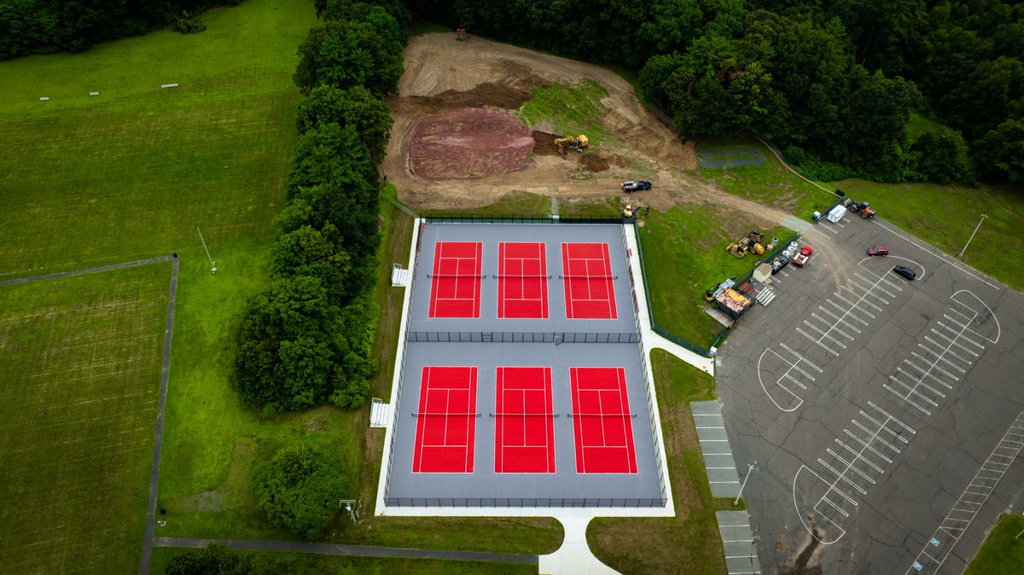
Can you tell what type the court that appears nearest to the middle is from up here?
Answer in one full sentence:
The court that appears nearest to the middle is a tennis court.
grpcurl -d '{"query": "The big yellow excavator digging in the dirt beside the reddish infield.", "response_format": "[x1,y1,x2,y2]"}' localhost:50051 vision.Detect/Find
[552,137,589,156]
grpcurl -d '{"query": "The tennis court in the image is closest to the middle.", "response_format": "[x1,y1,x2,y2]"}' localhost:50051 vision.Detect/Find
[497,242,549,318]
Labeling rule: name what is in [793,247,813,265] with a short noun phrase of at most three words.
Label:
vehicle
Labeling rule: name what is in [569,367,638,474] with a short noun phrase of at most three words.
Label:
tennis court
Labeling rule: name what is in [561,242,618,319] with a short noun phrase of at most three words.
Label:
tennis court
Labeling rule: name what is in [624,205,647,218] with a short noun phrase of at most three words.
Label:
vehicle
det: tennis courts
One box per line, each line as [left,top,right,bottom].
[412,367,478,473]
[428,242,483,318]
[569,367,638,474]
[497,242,549,318]
[494,367,556,473]
[561,242,618,319]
